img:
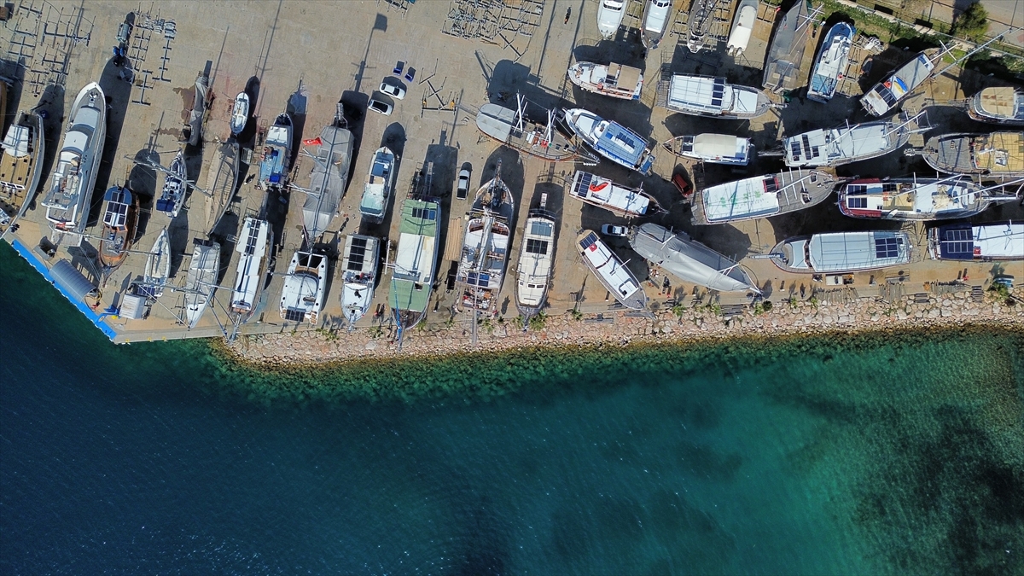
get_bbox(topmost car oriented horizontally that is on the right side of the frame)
[601,222,629,236]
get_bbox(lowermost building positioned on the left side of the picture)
[118,291,149,321]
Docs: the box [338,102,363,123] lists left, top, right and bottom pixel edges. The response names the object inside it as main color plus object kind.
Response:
black car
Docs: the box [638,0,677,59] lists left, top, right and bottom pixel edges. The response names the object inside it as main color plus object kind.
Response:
white boat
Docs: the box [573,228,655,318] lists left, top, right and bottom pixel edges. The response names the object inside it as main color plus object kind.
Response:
white boat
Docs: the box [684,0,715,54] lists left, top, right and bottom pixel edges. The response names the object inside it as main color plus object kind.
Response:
gray boat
